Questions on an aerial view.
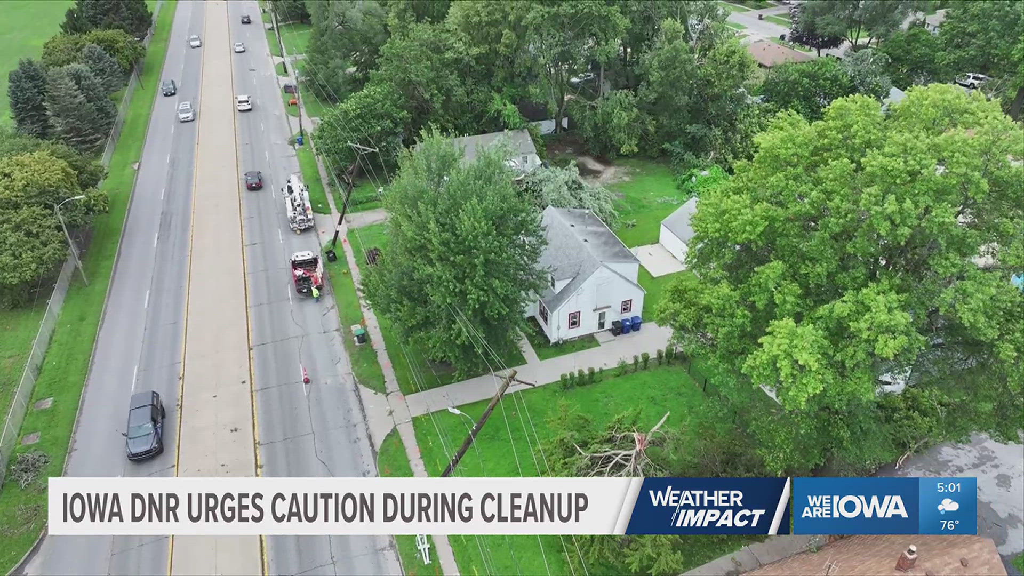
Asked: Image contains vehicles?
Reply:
Yes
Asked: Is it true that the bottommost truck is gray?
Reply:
Yes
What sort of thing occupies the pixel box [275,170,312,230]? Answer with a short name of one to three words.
truck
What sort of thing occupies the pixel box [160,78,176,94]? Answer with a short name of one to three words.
car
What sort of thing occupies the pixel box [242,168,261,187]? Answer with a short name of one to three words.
car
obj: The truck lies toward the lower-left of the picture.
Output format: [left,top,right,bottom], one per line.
[122,386,167,459]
